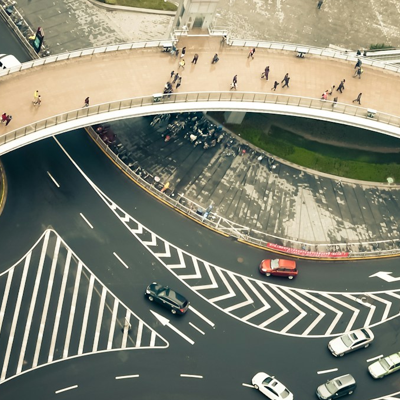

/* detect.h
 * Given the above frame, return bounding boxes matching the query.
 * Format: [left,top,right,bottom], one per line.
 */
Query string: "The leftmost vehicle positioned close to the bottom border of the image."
[249,371,296,400]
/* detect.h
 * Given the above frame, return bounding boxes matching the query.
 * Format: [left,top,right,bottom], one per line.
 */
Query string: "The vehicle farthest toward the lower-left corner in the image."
[143,282,192,315]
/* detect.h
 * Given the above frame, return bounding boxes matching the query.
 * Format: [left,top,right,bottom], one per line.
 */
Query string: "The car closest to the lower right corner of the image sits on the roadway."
[367,350,400,379]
